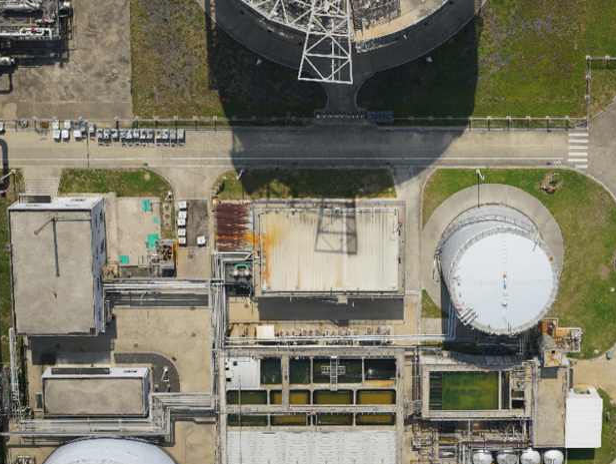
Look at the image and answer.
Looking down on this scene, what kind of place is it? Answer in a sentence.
It's an industrial area.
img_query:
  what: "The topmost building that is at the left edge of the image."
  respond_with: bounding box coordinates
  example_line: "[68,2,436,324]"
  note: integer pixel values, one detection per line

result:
[9,192,113,336]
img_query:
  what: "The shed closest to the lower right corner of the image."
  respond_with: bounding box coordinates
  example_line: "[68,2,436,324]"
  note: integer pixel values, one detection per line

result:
[565,388,602,448]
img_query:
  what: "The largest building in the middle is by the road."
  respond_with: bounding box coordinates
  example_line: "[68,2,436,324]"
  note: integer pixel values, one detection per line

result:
[253,197,405,299]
